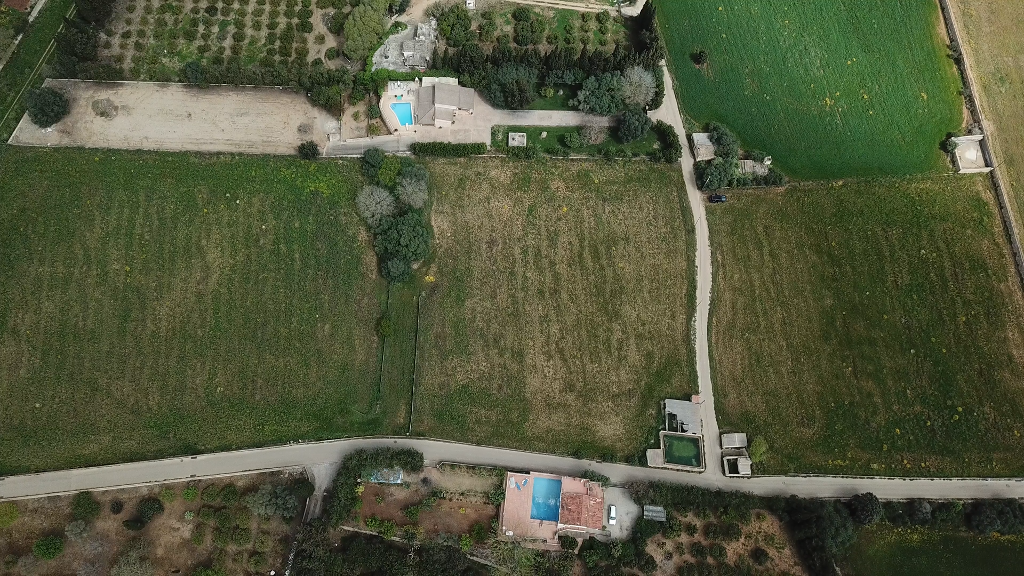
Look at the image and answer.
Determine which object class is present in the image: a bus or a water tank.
water tank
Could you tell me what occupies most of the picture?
grass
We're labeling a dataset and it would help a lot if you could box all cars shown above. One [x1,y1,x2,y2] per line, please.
[710,193,728,203]
[608,503,618,524]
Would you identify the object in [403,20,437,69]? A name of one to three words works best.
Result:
house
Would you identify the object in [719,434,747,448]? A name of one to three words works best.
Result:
shed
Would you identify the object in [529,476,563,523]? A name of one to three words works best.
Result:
swimming pool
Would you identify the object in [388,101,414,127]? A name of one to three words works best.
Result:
swimming pool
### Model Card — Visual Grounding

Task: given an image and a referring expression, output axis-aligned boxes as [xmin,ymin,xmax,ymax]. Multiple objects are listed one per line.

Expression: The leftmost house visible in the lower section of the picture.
[555,493,612,542]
